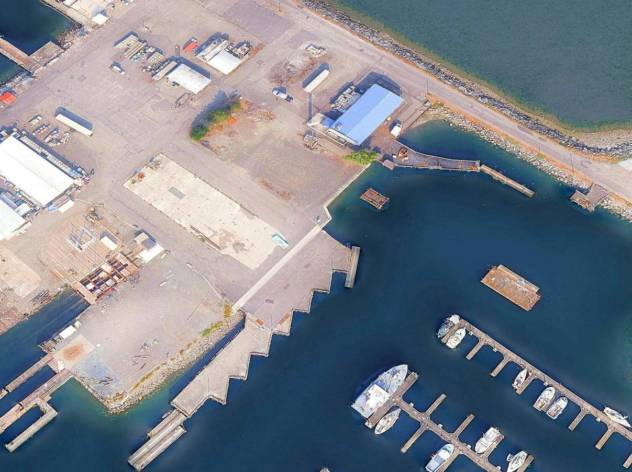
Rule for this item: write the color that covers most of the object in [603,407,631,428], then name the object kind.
white boat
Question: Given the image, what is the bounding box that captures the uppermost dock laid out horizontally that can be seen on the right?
[376,140,479,172]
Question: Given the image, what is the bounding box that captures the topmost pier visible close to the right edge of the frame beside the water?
[570,184,610,211]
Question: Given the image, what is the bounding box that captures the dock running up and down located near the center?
[345,246,361,288]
